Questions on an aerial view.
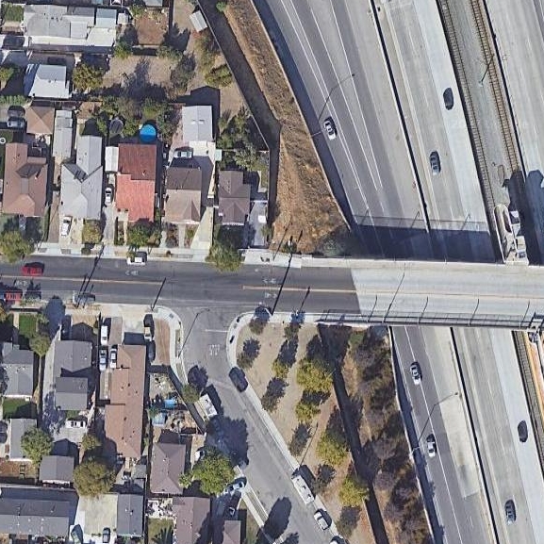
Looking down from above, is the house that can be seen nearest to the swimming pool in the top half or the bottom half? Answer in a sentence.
The top half of the photo is where the house that can be seen nearest to the swimming pool is.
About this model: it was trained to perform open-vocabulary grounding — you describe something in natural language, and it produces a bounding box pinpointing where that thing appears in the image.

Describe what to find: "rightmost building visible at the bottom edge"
[215,520,242,544]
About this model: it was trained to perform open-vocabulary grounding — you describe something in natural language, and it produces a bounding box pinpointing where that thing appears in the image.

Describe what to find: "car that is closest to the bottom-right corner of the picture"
[504,499,516,522]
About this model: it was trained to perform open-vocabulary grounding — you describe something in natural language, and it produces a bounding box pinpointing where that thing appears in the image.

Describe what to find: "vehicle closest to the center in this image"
[230,366,247,389]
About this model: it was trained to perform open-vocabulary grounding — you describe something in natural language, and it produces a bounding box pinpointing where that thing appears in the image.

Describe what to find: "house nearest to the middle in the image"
[218,170,250,224]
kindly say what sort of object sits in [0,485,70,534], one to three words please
house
